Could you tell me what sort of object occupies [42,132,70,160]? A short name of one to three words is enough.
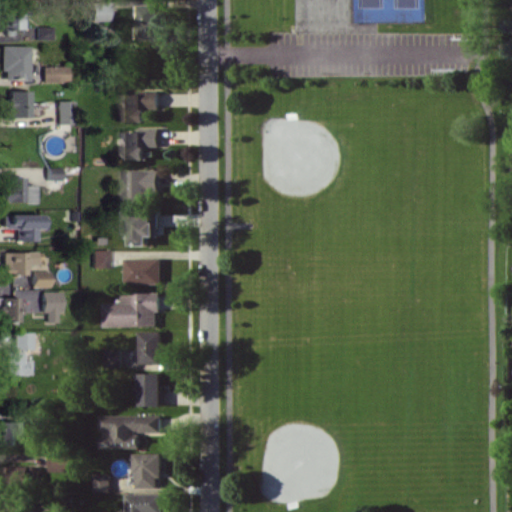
swimming pool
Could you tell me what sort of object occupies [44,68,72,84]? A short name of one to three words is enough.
building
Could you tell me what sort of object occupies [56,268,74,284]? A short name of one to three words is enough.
swimming pool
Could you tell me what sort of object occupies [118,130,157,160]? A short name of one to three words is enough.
house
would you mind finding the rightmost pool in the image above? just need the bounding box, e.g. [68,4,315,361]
[110,460,130,478]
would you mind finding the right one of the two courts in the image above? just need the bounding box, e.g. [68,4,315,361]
[388,0,424,24]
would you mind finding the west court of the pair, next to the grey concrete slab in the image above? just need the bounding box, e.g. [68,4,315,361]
[353,0,388,24]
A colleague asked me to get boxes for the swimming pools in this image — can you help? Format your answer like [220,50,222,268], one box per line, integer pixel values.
[56,268,74,284]
[42,132,70,160]
[110,460,130,478]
